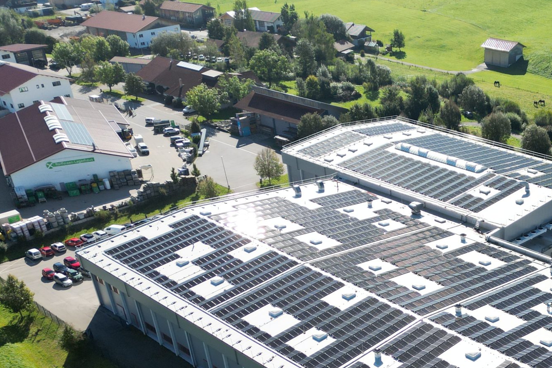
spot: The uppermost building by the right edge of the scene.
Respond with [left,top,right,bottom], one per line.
[481,38,544,67]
